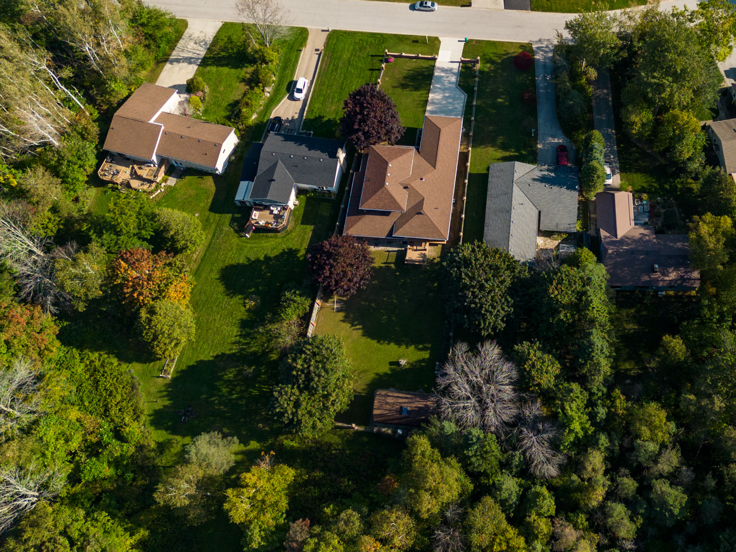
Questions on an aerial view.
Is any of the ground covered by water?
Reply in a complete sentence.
No, no water is visible.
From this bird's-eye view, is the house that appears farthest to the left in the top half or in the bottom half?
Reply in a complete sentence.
Seen from above, the house that appears farthest to the left lies in the top half of the view.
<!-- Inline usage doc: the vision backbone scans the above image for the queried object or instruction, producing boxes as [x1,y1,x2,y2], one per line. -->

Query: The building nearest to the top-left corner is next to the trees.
[103,96,241,176]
